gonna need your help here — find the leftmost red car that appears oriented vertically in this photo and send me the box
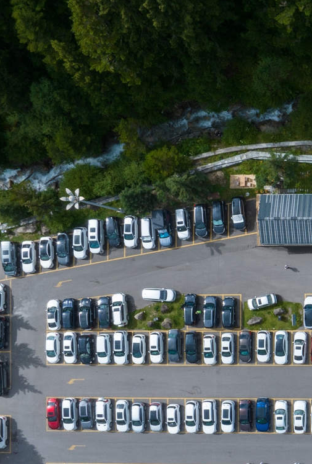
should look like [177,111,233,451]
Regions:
[47,397,63,429]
